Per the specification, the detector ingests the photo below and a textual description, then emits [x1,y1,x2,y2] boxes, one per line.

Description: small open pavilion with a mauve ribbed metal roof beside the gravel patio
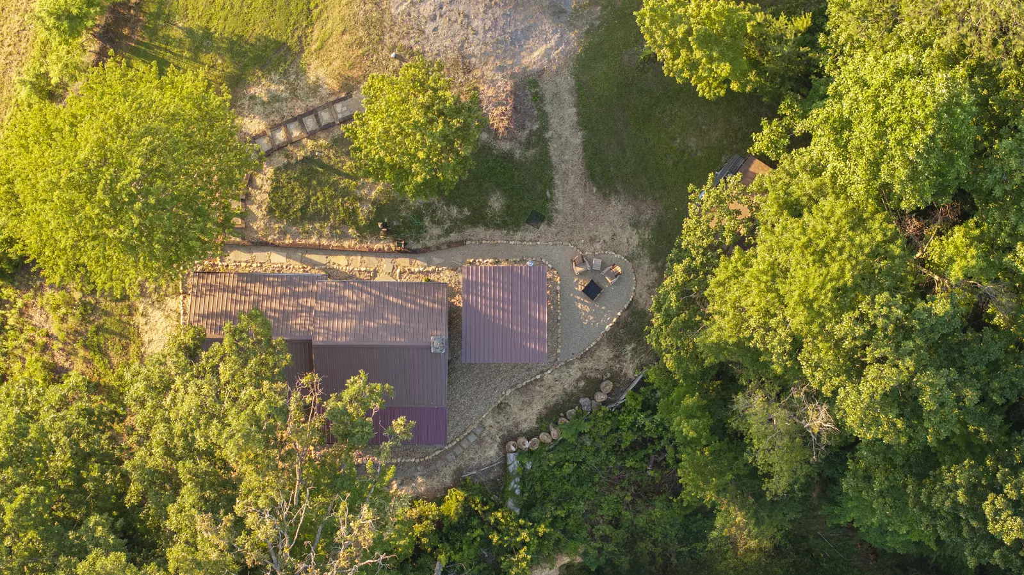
[462,266,547,363]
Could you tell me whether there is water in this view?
No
